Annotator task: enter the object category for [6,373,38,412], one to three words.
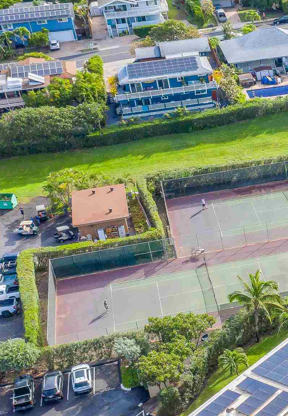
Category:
truck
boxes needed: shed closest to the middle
[72,184,131,242]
